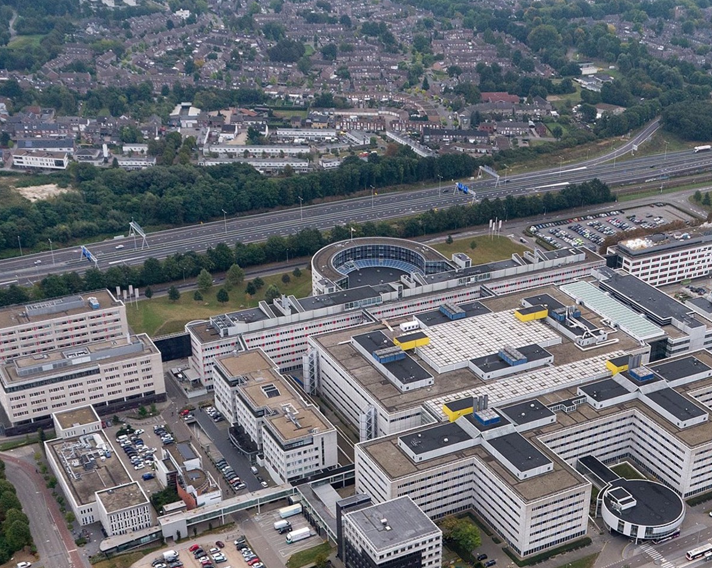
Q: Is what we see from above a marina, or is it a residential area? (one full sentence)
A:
The picture captures a residential area.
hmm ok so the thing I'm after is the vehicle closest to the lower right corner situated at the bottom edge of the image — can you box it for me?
[685,540,712,559]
